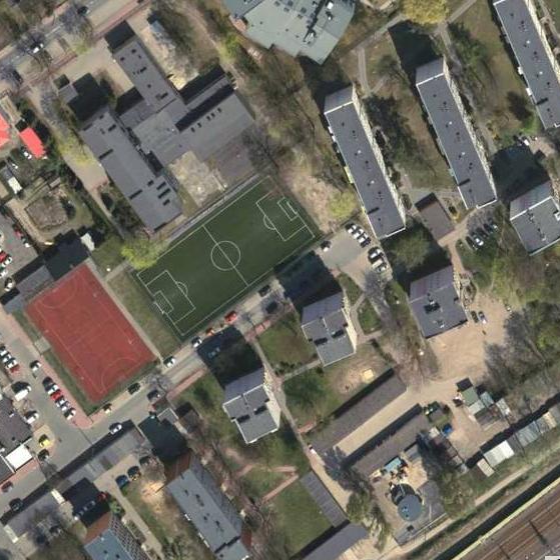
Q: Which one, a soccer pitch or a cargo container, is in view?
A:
soccer pitch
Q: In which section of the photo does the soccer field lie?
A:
center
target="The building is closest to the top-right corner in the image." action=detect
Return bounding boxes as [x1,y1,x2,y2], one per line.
[492,0,560,128]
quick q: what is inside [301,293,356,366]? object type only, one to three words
building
